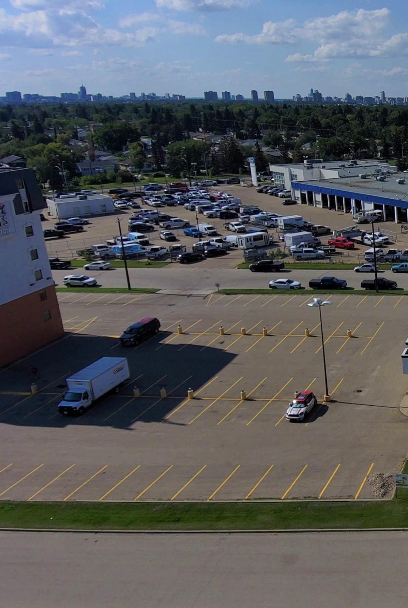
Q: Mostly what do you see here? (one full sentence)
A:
What you mostly see from above here is paved ground.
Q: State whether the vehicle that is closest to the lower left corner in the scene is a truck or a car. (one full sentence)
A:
I'd identify the vehicle that is closest to the lower left corner as a truck.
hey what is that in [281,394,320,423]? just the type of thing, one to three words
car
